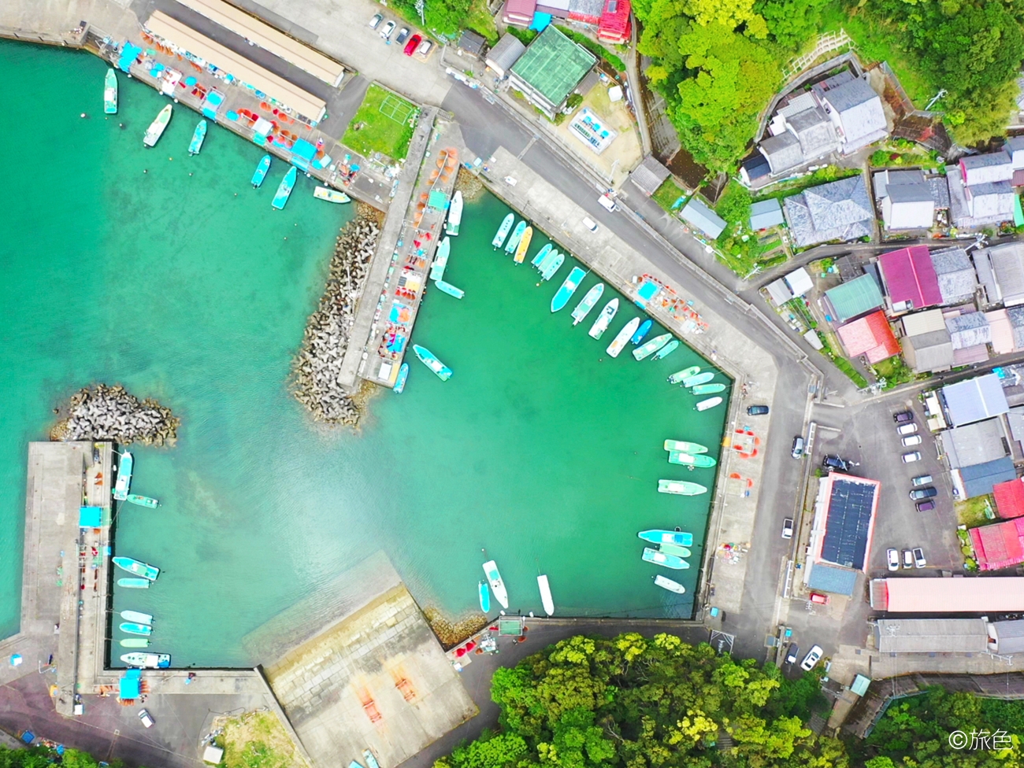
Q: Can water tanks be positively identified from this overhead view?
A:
Yes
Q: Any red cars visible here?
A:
Yes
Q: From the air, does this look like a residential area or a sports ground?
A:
residential area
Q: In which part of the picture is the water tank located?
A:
top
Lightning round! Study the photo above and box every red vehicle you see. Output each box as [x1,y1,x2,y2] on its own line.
[403,34,423,58]
[809,591,829,606]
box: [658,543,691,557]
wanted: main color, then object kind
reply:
green boat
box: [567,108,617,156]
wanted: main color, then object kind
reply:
white water tank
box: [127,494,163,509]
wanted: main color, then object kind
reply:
green boat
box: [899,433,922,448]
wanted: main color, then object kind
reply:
white car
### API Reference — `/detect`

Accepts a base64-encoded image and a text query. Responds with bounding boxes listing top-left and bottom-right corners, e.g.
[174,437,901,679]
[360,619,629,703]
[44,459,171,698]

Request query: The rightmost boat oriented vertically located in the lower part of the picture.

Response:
[537,574,554,616]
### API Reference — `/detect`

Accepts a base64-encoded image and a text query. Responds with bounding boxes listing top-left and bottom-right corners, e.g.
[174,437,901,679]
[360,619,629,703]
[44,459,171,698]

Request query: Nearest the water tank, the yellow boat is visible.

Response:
[513,226,532,265]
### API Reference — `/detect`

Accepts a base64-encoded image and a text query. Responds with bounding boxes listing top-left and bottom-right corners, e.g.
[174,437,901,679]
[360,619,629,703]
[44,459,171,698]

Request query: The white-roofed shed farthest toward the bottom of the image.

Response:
[202,743,226,765]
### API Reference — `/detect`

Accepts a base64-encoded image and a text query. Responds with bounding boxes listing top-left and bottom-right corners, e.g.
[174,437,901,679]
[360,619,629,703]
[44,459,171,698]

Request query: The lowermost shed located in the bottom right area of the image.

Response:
[845,674,871,698]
